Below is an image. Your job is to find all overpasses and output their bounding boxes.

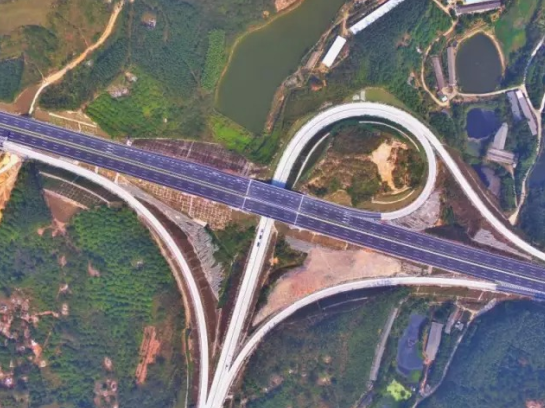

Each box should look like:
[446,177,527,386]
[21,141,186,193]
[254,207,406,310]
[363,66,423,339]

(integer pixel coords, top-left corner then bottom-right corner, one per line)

[243,180,306,226]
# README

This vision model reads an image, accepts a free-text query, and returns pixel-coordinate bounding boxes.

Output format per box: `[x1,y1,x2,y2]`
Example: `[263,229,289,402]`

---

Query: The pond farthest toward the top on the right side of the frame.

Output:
[455,32,502,93]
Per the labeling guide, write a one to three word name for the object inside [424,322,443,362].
shed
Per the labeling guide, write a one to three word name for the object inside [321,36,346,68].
building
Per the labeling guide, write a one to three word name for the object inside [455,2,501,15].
barn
